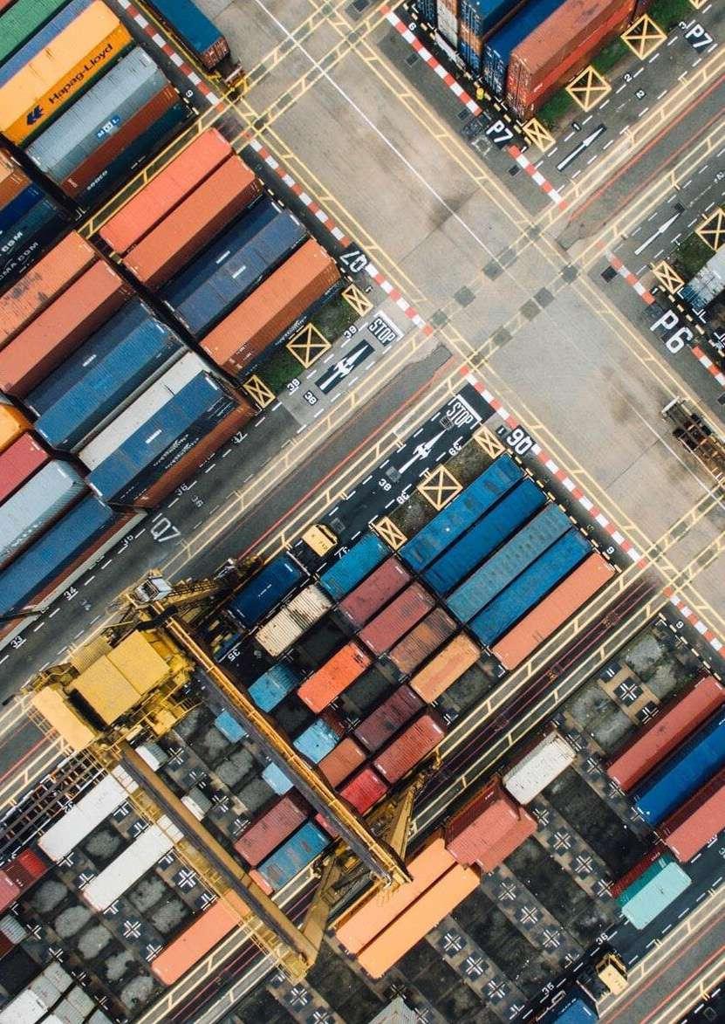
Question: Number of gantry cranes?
one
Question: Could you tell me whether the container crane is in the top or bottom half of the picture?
bottom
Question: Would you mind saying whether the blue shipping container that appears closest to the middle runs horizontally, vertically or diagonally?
diagonally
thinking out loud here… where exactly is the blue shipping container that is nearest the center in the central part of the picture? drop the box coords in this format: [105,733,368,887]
[319,529,391,598]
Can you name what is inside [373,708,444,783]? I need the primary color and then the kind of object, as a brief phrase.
red shipping container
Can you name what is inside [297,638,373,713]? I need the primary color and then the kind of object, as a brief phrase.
orange shipping container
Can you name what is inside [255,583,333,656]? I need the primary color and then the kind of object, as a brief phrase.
white shipping container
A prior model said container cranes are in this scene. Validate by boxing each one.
[11,548,434,992]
